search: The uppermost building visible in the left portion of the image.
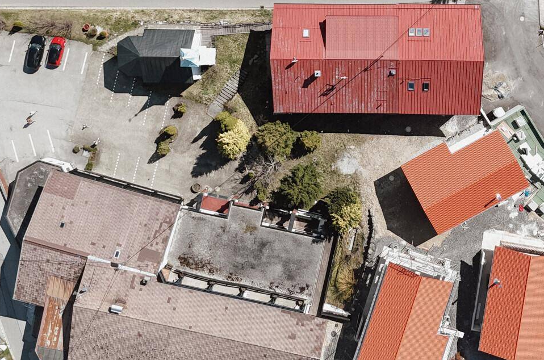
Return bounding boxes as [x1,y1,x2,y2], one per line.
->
[117,29,216,83]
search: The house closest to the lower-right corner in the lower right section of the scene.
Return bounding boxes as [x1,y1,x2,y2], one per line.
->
[478,243,544,360]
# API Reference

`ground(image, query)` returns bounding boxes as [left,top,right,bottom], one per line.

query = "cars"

[47,36,67,67]
[26,35,48,71]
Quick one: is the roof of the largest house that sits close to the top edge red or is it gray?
red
